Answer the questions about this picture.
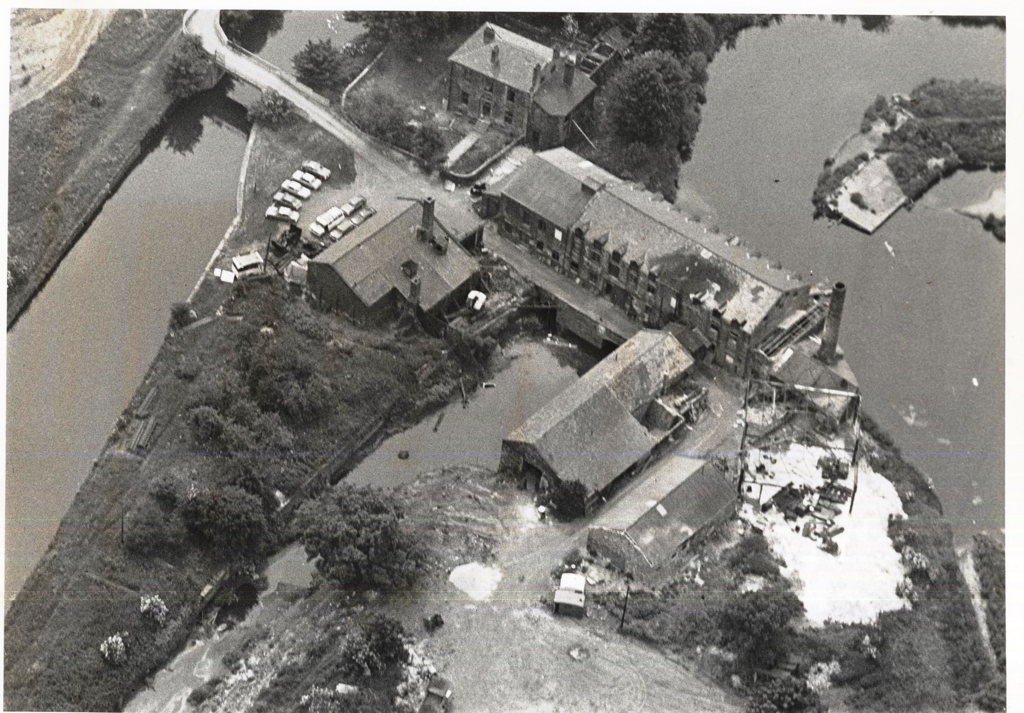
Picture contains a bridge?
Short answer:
Yes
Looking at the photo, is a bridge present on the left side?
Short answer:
Yes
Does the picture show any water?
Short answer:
Yes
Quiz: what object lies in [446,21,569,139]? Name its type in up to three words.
house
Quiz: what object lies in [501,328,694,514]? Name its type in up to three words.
building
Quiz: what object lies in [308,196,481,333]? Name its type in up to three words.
building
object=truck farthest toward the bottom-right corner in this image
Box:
[557,567,585,618]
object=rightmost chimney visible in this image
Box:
[817,281,849,366]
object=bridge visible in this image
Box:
[182,4,331,114]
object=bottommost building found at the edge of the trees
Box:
[587,458,737,590]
